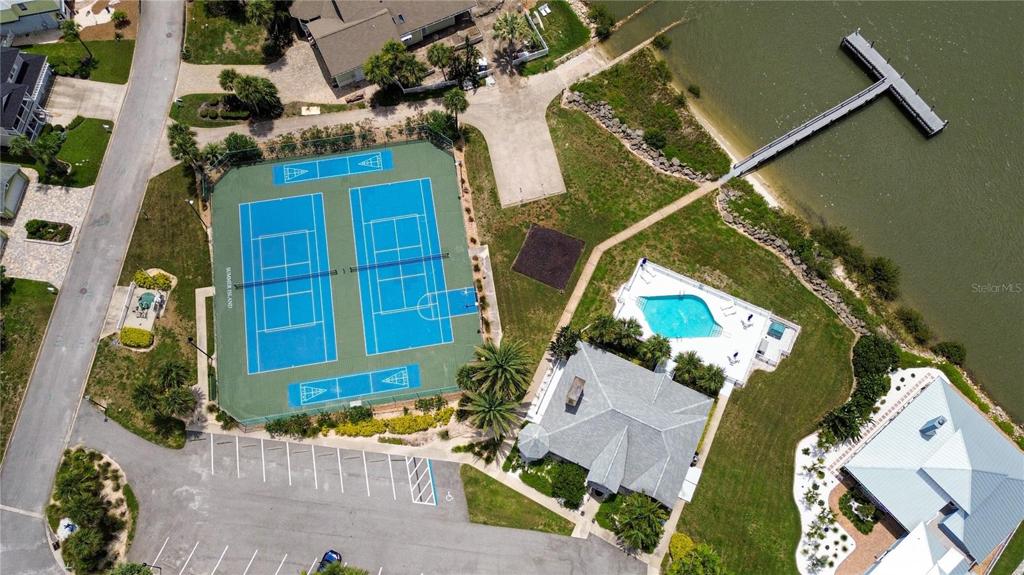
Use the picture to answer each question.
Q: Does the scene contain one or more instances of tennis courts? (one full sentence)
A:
Yes, there is a tennis court in the image.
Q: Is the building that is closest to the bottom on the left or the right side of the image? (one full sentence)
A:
The building that is closest to the bottom appears in the right half of the scene.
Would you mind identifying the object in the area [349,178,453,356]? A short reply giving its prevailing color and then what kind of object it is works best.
blue tennis court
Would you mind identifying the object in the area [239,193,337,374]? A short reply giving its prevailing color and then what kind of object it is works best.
blue tennis court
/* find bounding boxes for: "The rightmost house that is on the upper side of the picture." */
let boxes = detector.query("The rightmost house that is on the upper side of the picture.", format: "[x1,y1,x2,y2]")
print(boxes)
[288,0,477,84]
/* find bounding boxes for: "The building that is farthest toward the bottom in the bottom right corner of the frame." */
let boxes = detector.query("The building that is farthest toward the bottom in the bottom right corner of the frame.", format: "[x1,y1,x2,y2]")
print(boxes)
[859,523,970,575]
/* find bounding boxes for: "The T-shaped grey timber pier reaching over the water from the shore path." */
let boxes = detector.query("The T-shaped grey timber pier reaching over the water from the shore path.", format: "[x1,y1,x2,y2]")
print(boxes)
[720,25,951,186]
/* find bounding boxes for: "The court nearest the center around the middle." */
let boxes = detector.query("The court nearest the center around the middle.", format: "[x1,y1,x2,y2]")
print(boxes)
[417,288,478,320]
